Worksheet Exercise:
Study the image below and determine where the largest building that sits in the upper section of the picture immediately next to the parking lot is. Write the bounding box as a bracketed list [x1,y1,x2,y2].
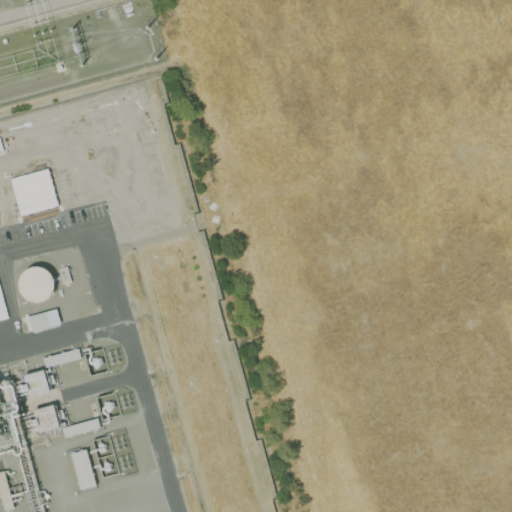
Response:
[12,164,60,221]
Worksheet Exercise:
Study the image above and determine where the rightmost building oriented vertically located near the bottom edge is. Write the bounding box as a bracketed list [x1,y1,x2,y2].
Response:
[71,450,96,491]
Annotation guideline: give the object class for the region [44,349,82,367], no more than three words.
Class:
building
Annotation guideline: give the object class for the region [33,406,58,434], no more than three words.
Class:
building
